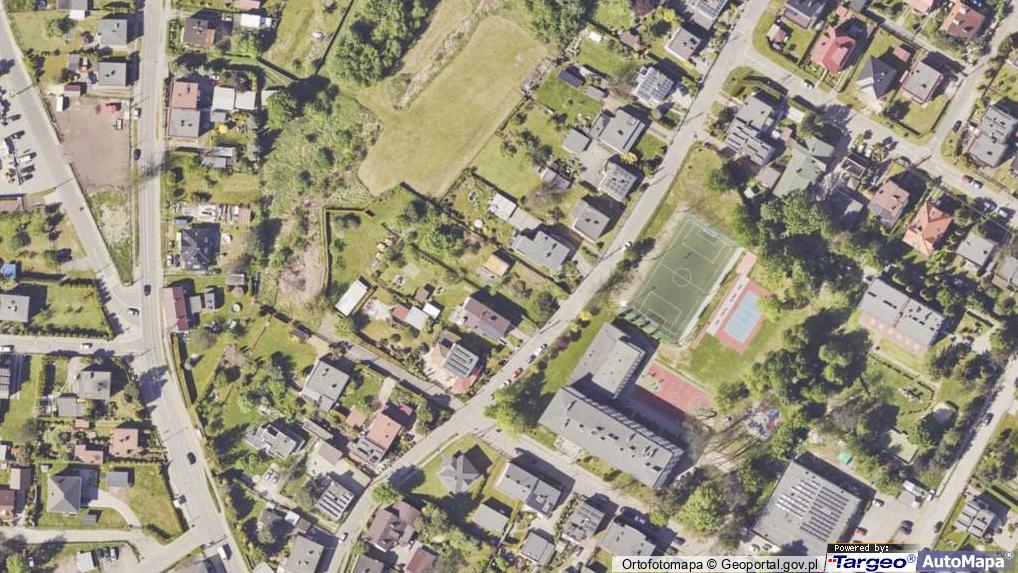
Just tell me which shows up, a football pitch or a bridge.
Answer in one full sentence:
Looking from above, you can make out a football pitch.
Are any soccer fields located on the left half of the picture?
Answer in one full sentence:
No, there's no soccer field to be seen on the left half of the picture.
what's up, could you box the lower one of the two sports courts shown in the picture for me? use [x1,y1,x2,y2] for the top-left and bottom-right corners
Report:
[633,362,713,419]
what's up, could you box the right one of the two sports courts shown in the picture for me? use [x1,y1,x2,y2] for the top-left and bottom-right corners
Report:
[717,280,772,352]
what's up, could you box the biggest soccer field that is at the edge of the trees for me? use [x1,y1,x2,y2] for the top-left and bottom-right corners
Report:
[626,211,745,342]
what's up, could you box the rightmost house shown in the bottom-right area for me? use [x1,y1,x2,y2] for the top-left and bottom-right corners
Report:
[954,501,995,537]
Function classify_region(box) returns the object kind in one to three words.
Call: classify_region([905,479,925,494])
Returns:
vehicle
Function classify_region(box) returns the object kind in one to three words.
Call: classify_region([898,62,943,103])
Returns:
house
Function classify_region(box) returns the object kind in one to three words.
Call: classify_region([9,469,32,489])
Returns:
barn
